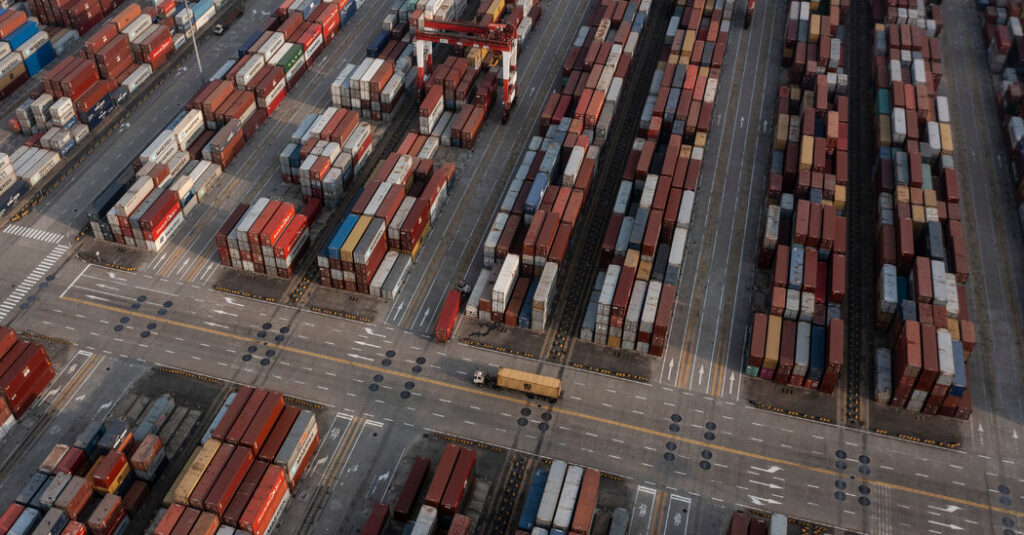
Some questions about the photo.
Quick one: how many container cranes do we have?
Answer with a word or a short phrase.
1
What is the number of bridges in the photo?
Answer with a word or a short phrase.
none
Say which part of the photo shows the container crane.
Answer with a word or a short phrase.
top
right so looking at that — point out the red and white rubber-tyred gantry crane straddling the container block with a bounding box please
[409,14,520,118]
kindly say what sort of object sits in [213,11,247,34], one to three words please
truck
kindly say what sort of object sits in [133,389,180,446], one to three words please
shipping container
